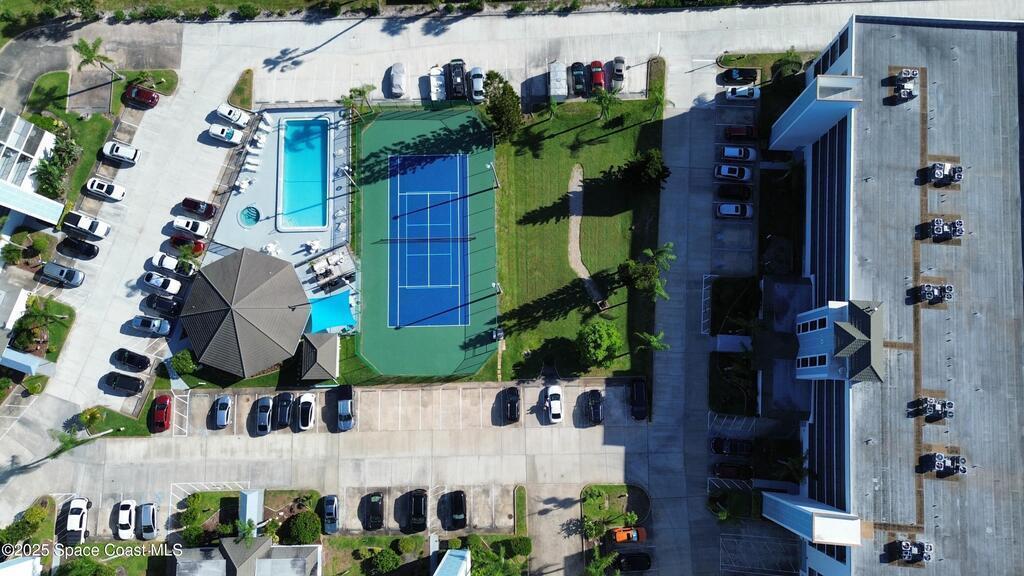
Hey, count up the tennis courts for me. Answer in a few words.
1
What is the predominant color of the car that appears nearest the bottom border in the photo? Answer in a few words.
black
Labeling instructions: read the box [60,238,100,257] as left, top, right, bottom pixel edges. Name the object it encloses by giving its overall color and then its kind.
black car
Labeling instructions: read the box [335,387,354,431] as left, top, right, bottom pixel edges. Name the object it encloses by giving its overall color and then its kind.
blue vehicle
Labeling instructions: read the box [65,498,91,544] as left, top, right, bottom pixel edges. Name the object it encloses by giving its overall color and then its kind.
white truck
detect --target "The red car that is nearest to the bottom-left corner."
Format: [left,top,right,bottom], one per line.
[153,395,173,431]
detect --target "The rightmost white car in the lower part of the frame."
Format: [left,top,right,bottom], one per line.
[547,386,564,423]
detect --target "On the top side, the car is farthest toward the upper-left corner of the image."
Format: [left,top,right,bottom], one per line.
[127,86,160,106]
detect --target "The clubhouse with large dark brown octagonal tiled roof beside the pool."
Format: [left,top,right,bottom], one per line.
[180,248,312,379]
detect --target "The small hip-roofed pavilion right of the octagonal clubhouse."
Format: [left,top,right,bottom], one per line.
[301,333,340,380]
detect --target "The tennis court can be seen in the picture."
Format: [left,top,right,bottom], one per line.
[361,109,497,374]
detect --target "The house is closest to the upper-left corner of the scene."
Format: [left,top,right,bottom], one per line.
[0,106,64,178]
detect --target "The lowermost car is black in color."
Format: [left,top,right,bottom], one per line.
[617,552,652,572]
